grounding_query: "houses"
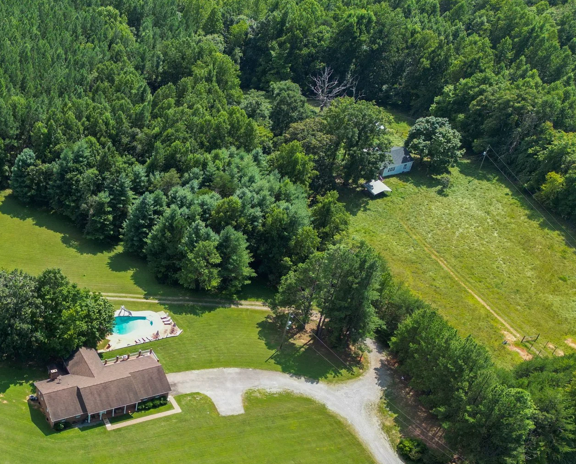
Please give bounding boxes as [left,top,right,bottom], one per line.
[34,346,172,431]
[371,146,414,176]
